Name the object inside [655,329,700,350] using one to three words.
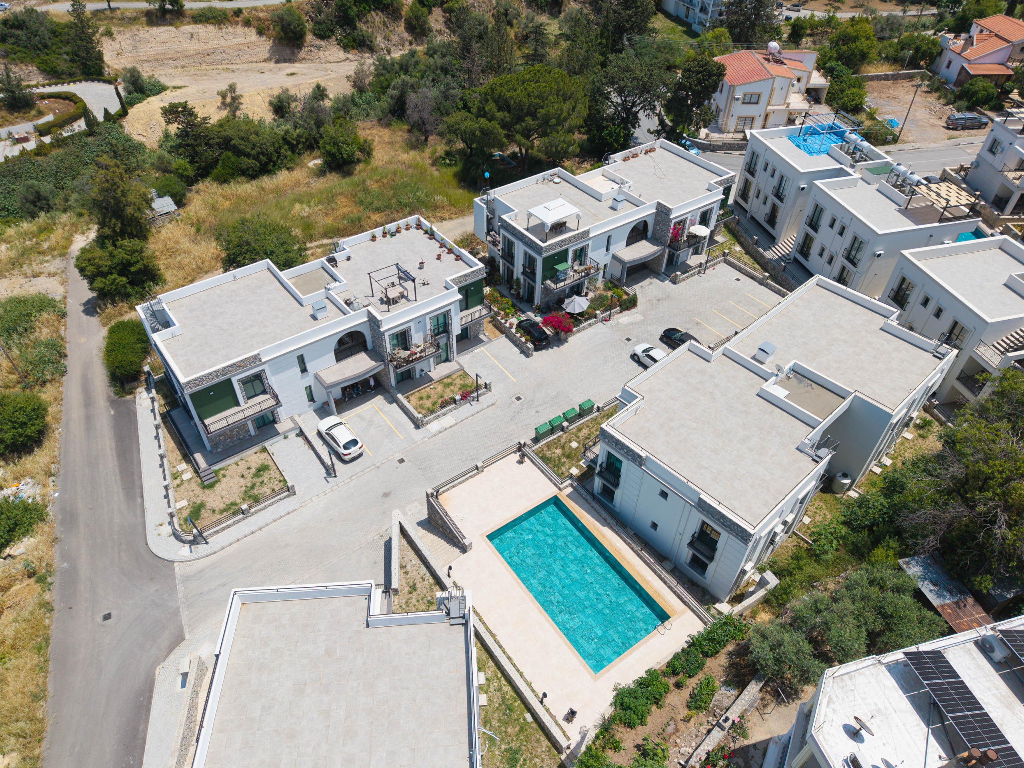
car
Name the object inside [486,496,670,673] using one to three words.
swimming pool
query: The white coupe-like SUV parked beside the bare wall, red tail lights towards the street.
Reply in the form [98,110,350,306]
[323,417,366,463]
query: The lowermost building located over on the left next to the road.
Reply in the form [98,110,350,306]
[188,573,489,768]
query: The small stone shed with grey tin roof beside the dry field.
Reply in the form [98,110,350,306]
[150,192,181,236]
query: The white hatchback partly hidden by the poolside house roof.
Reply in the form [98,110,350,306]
[626,342,668,369]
